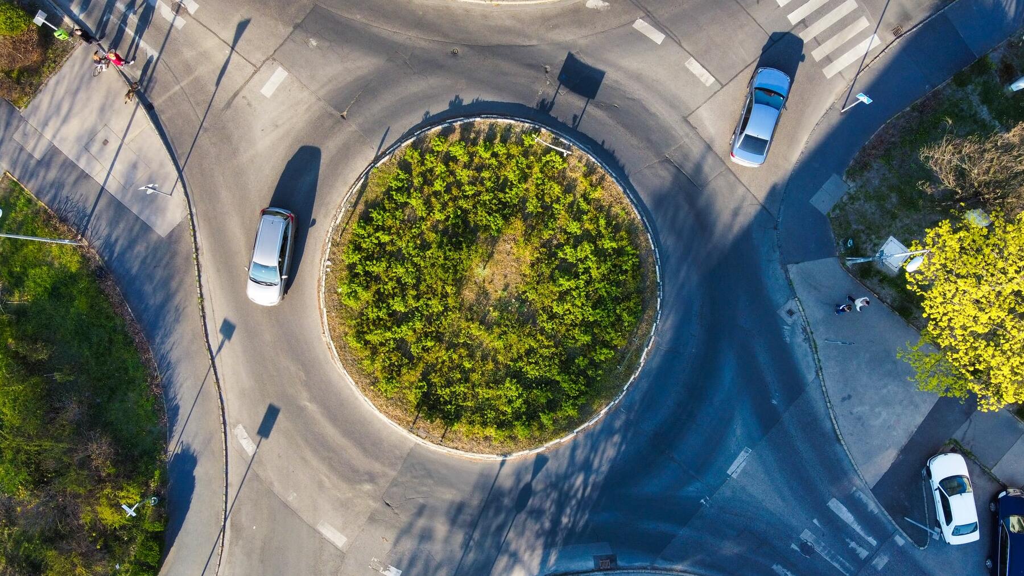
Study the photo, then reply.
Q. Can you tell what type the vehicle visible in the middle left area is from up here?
car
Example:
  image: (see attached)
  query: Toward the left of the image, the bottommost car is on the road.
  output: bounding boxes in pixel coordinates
[243,208,300,306]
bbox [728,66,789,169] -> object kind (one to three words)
car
